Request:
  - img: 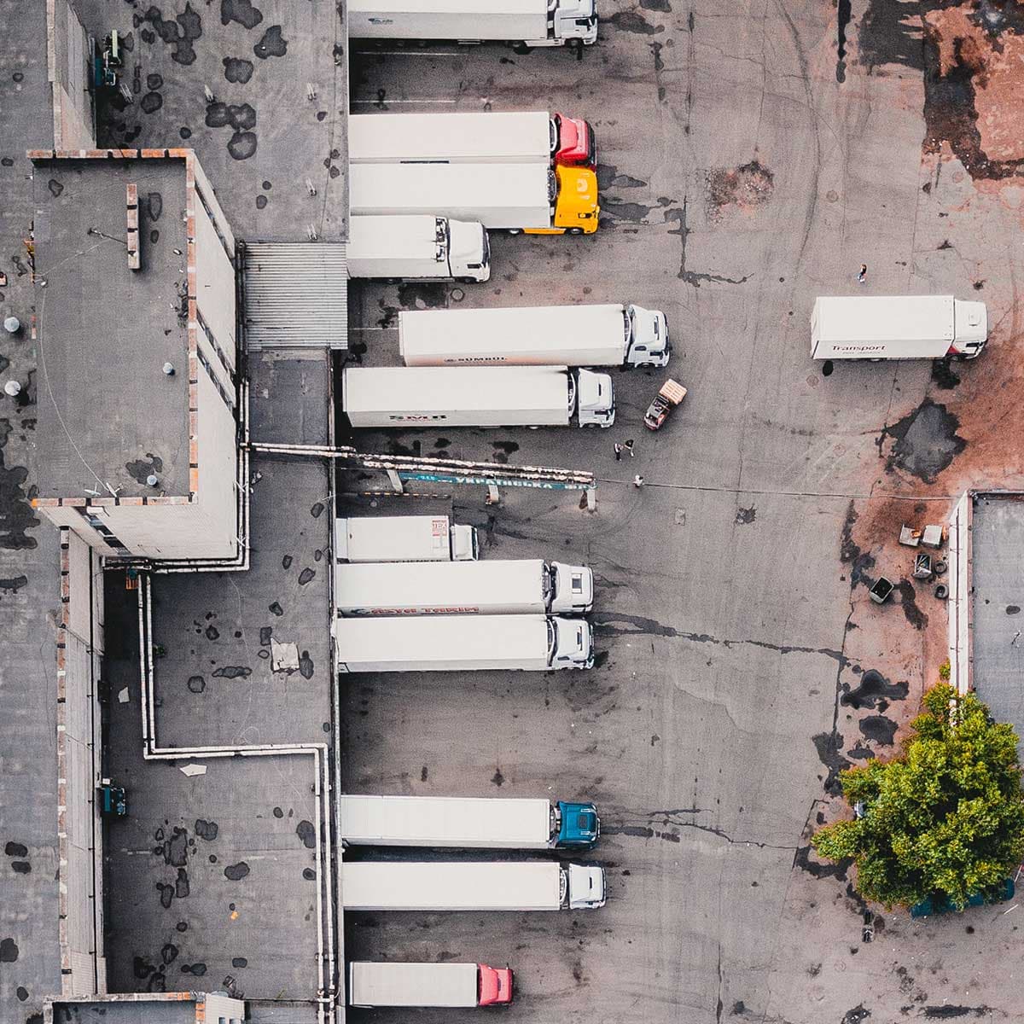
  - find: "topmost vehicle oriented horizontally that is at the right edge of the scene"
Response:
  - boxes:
[810,295,992,365]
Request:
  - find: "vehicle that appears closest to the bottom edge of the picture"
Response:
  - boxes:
[351,962,514,1010]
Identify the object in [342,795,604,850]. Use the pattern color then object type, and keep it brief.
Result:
white truck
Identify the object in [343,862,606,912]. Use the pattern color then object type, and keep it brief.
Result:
white truck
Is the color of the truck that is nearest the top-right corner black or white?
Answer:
white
